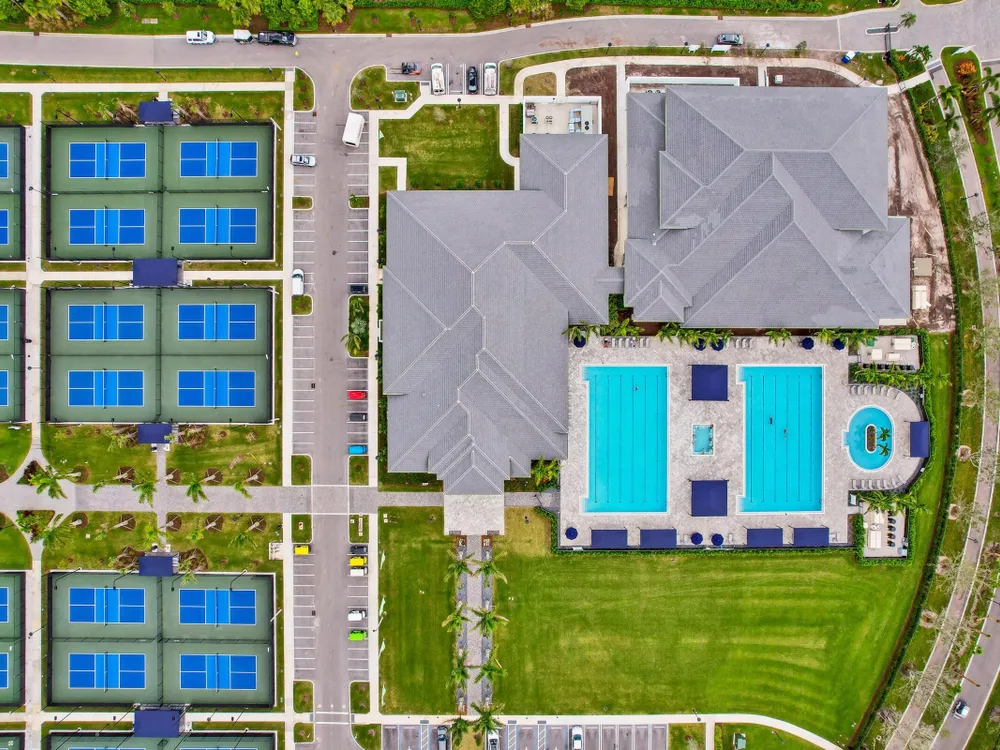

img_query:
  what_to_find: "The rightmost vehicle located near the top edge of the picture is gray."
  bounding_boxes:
[717,32,744,47]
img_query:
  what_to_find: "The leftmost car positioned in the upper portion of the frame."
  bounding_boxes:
[186,28,215,44]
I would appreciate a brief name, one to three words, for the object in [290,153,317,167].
vehicle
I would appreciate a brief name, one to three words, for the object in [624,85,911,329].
building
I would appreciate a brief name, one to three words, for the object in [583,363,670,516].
swimming pool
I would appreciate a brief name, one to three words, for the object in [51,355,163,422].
sports court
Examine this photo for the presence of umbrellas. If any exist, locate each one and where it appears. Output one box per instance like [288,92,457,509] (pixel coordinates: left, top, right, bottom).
[800,338,812,350]
[830,339,843,350]
[573,335,585,347]
[693,339,705,351]
[690,532,702,544]
[711,533,723,545]
[710,340,722,351]
[565,527,577,539]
